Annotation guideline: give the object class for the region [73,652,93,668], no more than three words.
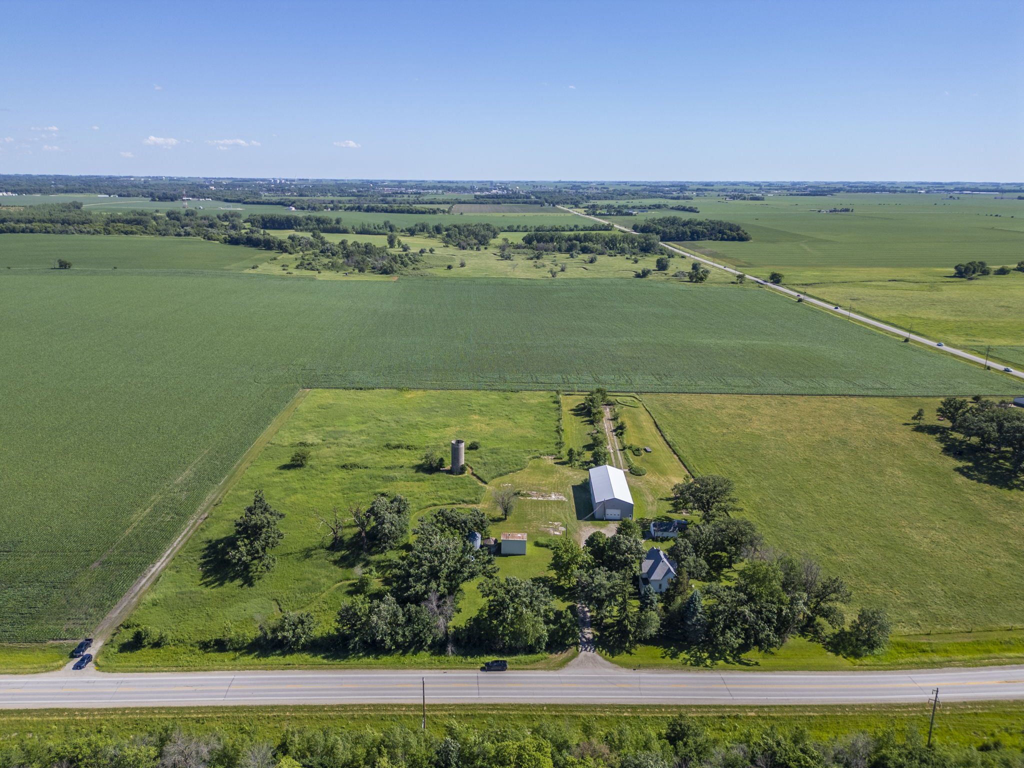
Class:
car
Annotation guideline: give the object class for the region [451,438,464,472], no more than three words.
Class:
silo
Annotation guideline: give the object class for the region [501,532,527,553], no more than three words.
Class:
shed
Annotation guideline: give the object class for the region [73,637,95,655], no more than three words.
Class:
vehicle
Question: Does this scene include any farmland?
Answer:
Yes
